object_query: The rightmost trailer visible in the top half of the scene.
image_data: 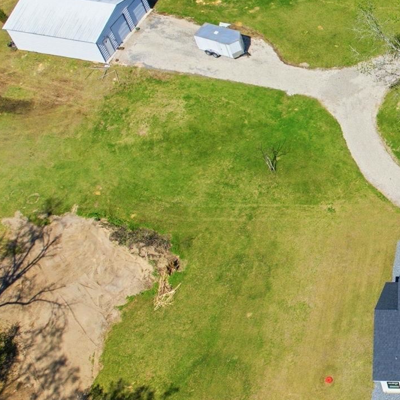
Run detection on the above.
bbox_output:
[195,26,255,59]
